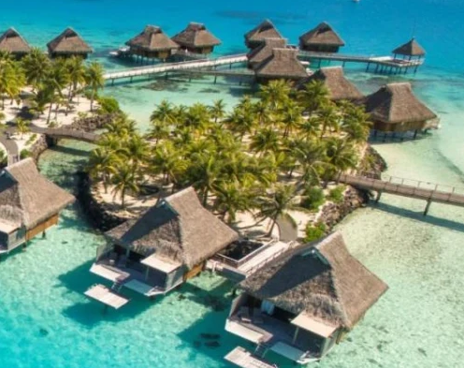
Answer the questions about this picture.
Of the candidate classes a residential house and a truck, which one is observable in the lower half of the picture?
residential house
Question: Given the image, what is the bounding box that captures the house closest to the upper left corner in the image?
[0,24,27,54]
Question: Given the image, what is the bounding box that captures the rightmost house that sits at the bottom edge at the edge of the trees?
[217,231,389,368]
